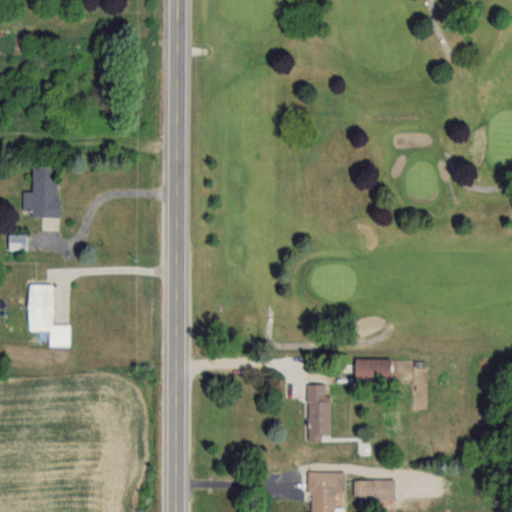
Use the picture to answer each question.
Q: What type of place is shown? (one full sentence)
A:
This looks like a golf course.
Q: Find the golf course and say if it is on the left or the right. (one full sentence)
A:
The golf course appears in the right half of the scene.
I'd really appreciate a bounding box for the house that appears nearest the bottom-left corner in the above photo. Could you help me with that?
[28,284,72,350]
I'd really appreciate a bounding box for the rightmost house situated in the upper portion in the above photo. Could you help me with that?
[22,168,60,218]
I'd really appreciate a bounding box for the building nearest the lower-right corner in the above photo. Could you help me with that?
[354,480,394,501]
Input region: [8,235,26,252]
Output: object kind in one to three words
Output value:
shed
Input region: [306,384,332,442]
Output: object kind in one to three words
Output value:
house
